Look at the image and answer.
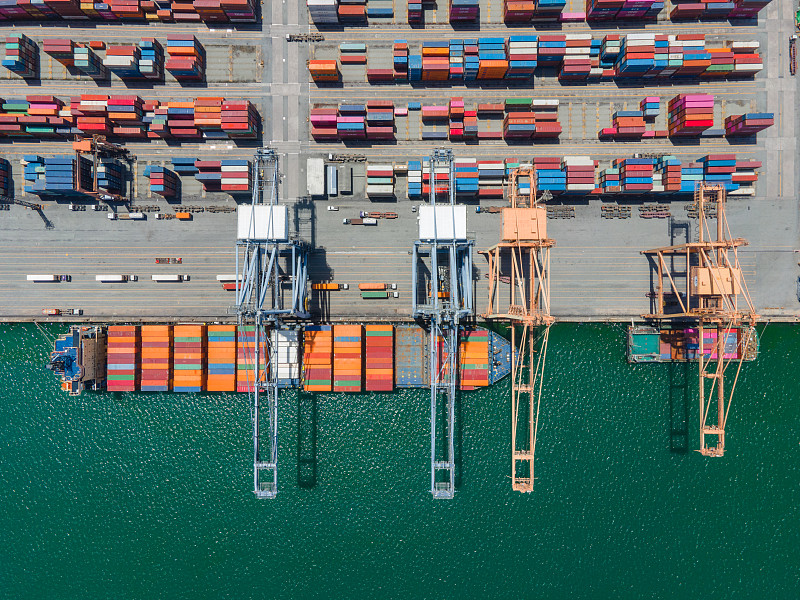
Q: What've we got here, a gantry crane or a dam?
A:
gantry crane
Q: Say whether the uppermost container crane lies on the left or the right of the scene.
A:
left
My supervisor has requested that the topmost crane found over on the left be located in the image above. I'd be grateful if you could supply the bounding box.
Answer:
[68,135,134,206]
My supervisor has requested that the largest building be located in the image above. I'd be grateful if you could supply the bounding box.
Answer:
[307,158,326,198]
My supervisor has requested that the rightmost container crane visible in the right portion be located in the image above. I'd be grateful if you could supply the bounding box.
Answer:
[638,187,755,456]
